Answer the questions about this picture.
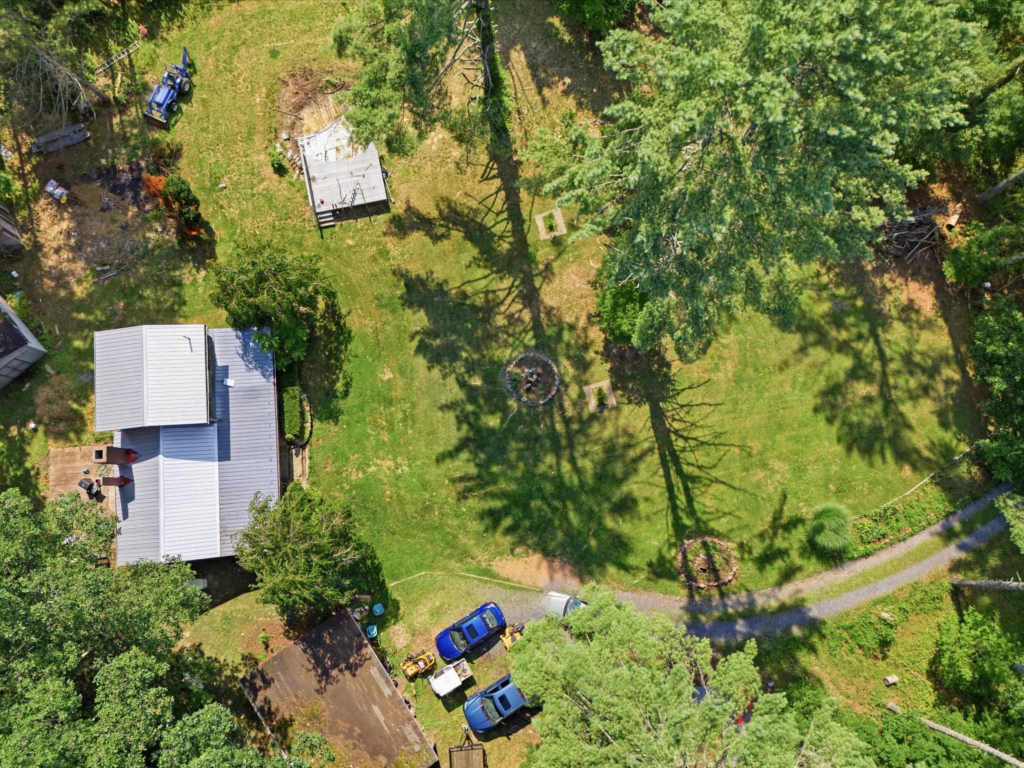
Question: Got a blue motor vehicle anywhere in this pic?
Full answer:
Yes, a blue motor vehicle is visible in the scene.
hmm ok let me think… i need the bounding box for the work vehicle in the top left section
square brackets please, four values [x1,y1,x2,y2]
[138,49,200,135]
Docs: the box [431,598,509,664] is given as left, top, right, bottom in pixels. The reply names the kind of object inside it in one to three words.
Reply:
car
